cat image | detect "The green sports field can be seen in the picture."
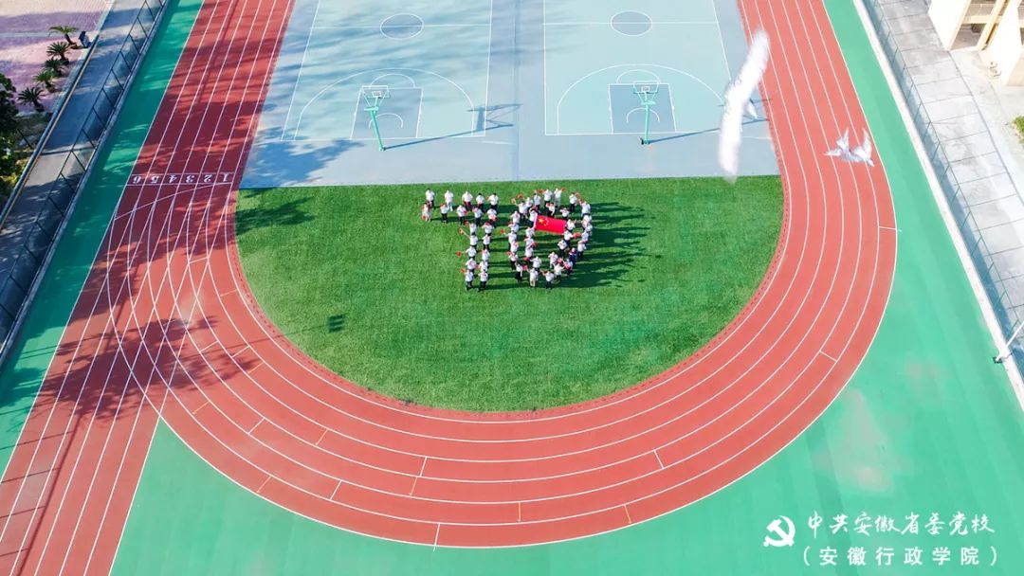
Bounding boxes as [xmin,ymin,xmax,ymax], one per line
[236,174,781,411]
